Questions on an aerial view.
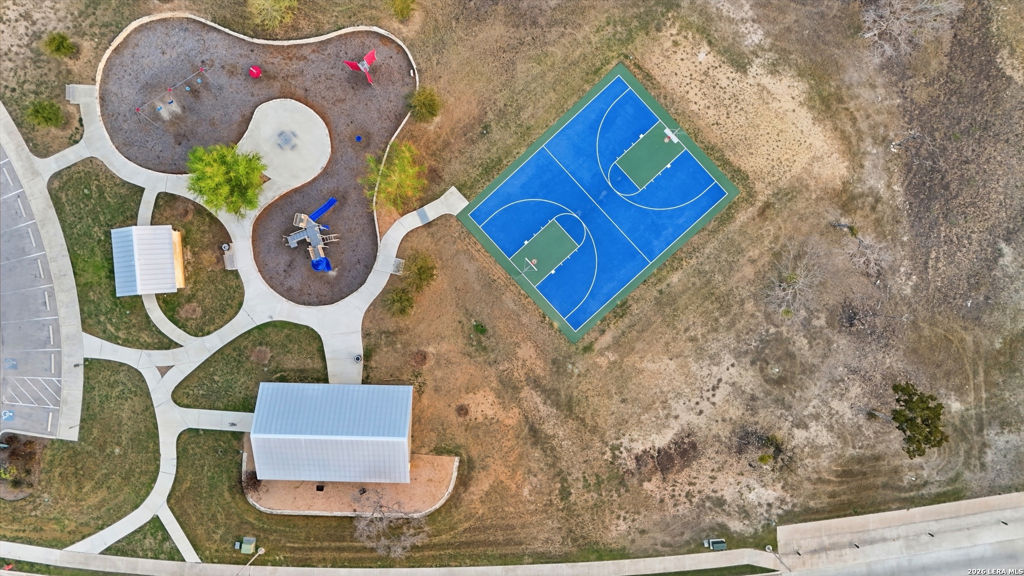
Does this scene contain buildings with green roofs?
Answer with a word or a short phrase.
No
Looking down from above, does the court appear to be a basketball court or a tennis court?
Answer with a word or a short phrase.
basketball court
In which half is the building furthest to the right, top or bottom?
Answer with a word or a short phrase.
bottom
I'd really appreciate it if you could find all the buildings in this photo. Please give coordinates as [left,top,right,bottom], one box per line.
[248,382,415,484]
[111,224,188,297]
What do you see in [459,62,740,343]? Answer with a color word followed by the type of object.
blue basketball court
